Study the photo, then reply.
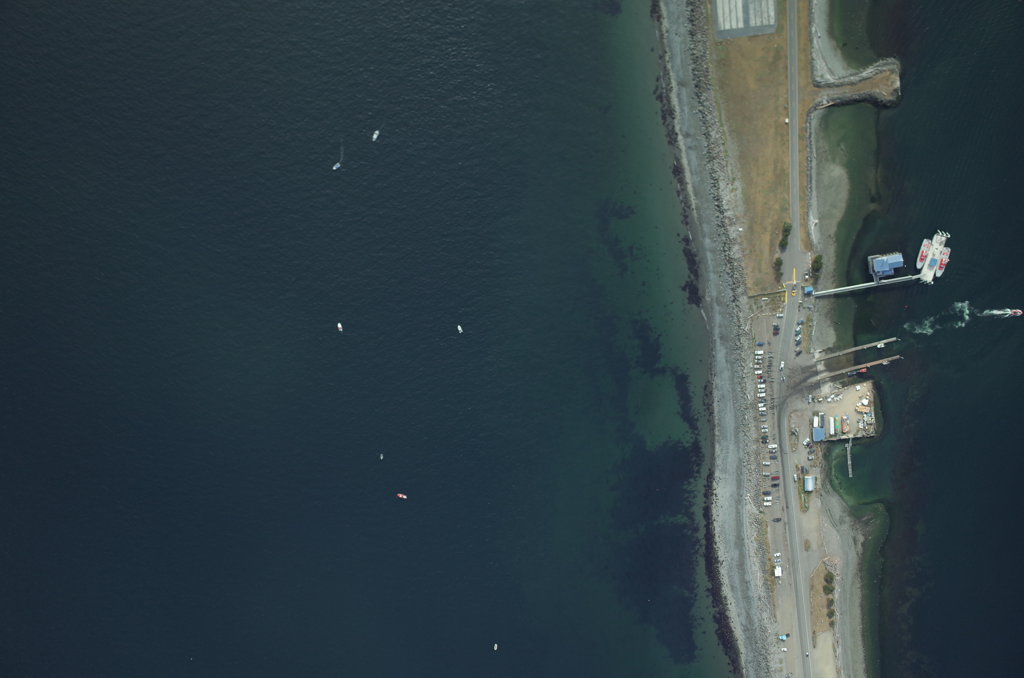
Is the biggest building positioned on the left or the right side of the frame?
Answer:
right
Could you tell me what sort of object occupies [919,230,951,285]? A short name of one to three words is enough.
ship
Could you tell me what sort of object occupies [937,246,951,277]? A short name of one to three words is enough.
boat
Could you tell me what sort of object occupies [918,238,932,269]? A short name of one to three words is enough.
boat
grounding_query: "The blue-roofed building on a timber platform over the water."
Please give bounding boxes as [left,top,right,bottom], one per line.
[867,251,904,283]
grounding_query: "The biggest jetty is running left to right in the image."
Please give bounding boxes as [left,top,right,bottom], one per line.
[814,276,913,297]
